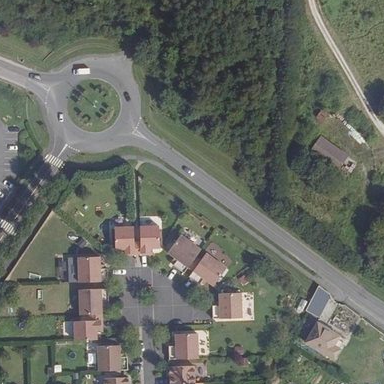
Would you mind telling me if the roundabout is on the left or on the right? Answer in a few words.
left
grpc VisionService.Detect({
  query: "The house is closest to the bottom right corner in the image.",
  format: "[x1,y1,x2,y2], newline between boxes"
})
[308,322,354,358]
